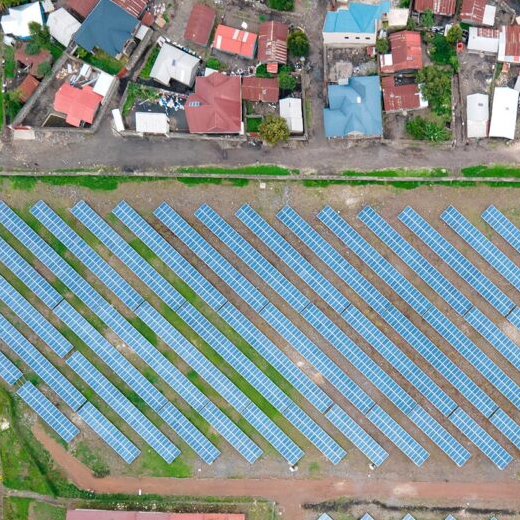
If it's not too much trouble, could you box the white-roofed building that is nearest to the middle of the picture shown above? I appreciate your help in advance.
[280,100,303,134]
